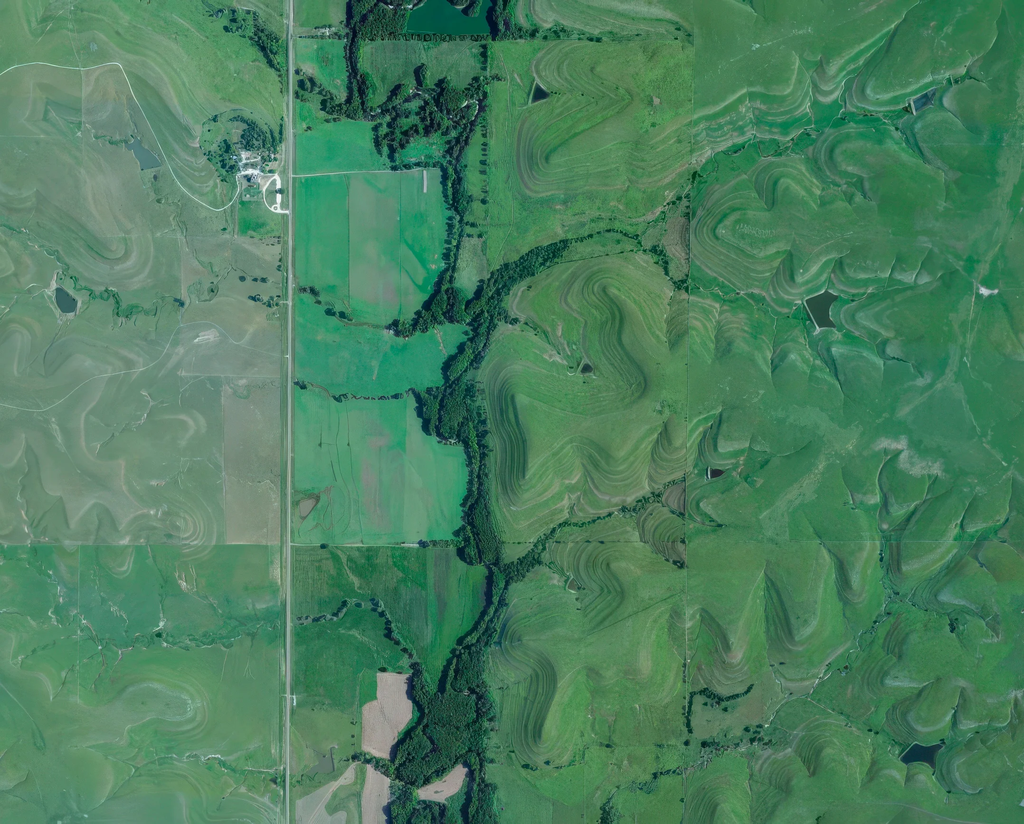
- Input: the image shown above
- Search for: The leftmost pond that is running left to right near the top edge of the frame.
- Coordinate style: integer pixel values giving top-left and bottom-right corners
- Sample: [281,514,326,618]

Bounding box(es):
[404,0,492,34]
